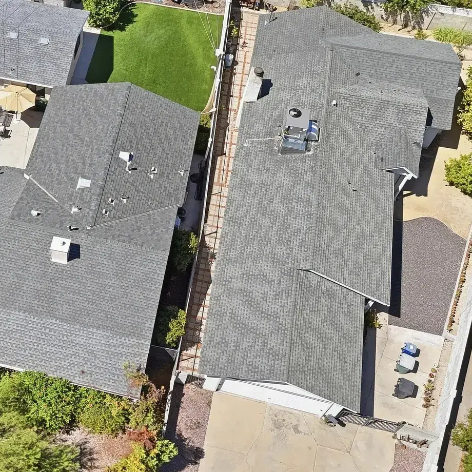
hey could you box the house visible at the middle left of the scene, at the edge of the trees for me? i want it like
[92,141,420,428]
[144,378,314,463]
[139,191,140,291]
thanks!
[0,82,200,403]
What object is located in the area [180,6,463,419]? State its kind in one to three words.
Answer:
house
